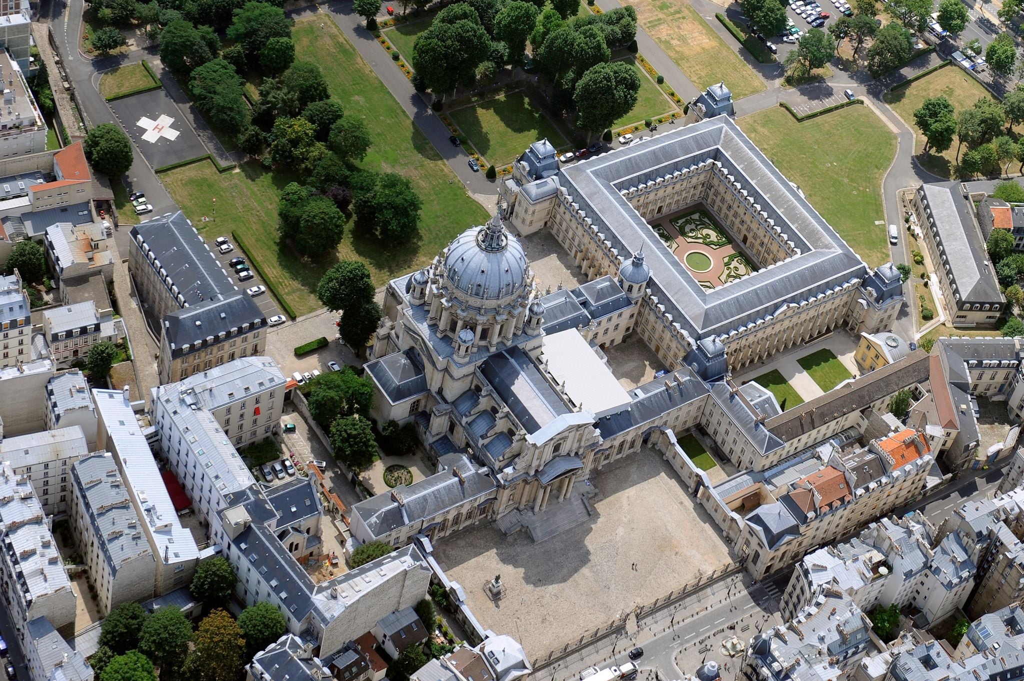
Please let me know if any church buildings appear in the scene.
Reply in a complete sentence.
Yes, a church building is visible in the scene.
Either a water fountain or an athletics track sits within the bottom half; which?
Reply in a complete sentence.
You can see a water fountain within the bottom half.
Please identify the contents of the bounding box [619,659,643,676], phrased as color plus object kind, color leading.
white vehicle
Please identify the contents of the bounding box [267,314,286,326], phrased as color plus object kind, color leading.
white vehicle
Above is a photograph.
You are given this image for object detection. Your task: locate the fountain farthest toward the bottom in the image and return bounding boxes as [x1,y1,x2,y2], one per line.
[718,633,747,664]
